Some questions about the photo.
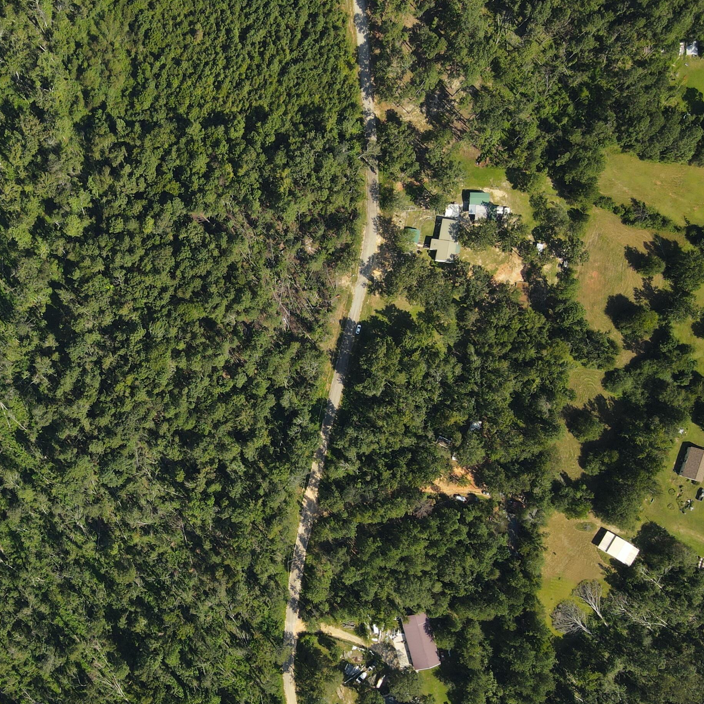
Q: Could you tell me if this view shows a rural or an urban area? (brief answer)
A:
rural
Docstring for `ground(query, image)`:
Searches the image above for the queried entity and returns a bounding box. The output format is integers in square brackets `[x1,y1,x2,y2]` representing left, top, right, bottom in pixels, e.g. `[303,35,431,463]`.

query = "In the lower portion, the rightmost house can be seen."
[677,445,704,483]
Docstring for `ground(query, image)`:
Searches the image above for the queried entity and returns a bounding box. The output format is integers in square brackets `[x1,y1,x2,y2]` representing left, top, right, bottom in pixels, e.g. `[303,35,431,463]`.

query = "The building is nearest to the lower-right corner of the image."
[594,530,640,566]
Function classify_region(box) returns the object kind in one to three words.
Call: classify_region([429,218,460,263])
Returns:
house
